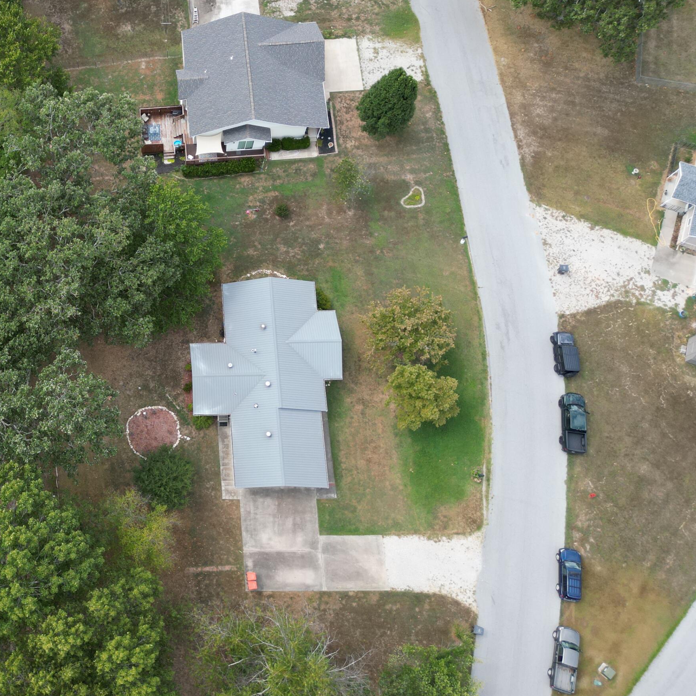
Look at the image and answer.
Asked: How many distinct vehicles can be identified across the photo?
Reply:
four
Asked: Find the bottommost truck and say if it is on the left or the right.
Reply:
right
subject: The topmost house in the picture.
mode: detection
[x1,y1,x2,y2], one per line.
[176,12,329,151]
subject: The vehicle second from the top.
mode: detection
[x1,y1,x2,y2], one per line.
[557,395,587,454]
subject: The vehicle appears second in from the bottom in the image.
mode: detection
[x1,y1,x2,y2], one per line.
[555,548,583,601]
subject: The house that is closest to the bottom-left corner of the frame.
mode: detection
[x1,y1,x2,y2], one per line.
[190,277,345,488]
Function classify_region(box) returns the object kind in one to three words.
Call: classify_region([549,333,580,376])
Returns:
vehicle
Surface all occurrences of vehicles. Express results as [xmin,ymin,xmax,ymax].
[547,624,581,694]
[557,395,587,454]
[555,548,583,601]
[549,333,580,376]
